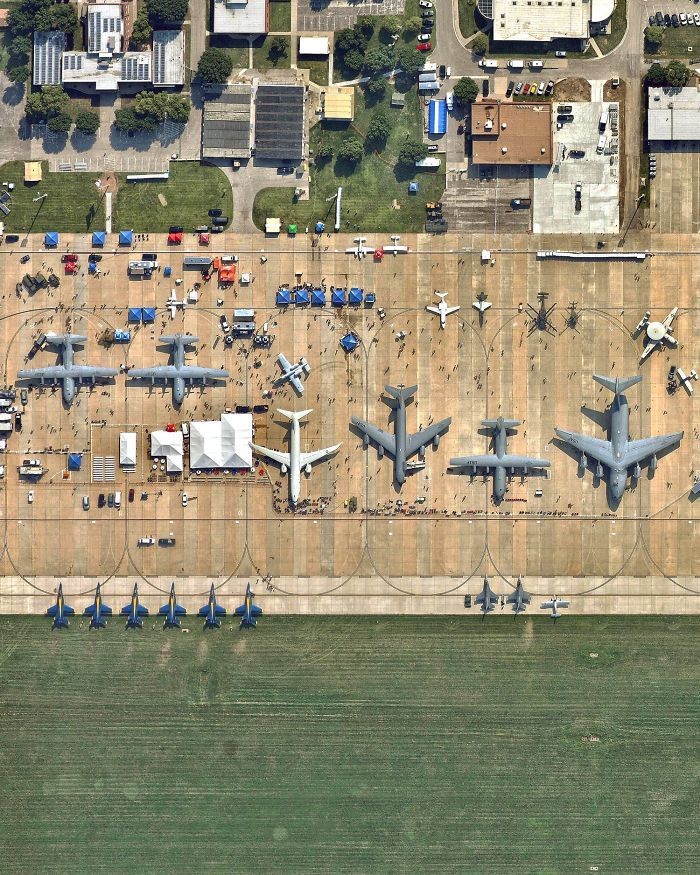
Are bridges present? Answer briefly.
No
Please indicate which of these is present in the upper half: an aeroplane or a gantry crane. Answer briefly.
aeroplane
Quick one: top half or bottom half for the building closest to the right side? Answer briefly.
top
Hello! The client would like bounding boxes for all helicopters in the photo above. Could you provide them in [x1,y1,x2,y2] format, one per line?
[562,303,583,328]
[527,294,557,332]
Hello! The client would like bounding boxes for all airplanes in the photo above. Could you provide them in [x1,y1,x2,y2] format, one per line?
[84,582,112,628]
[508,575,532,614]
[234,583,263,628]
[17,331,117,403]
[350,381,450,484]
[678,367,698,393]
[121,583,150,628]
[166,291,186,316]
[197,583,226,627]
[345,234,374,257]
[426,291,460,329]
[539,596,569,617]
[382,236,409,255]
[635,307,677,360]
[128,331,228,403]
[250,408,342,504]
[46,582,74,628]
[555,373,685,499]
[271,352,310,393]
[473,291,491,326]
[158,582,187,627]
[450,417,550,497]
[475,576,499,614]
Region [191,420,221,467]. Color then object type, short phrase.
white tent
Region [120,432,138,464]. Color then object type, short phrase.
white tent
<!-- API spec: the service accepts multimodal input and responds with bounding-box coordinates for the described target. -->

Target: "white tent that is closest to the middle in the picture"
[221,412,255,467]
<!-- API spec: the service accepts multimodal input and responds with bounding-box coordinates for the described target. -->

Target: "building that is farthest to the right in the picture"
[648,85,700,140]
